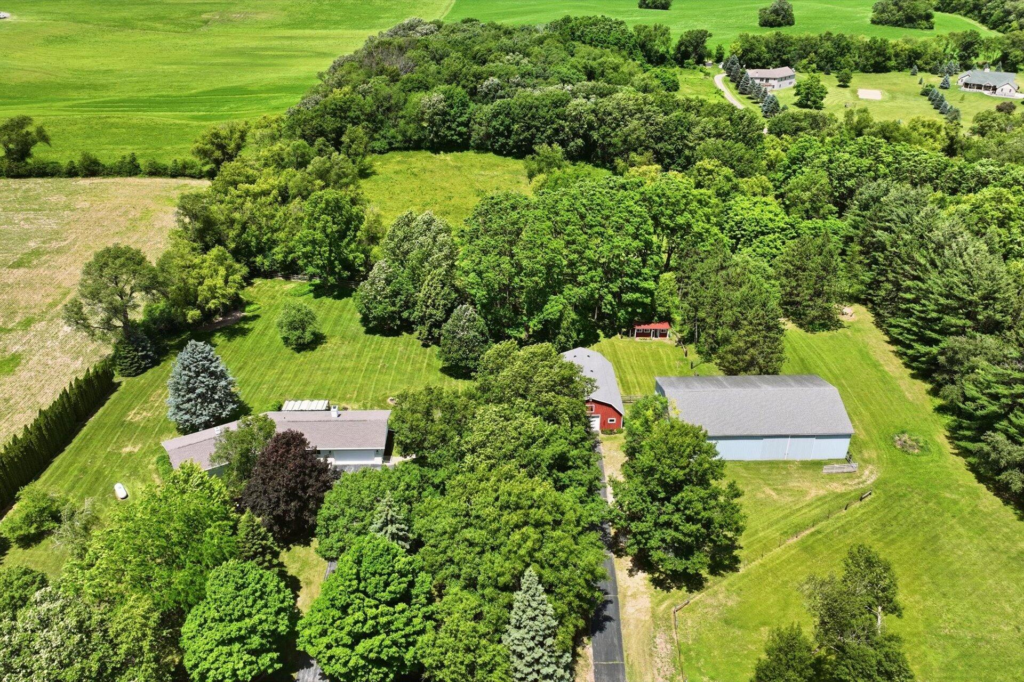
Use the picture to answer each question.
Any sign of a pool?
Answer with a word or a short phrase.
No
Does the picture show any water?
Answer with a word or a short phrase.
No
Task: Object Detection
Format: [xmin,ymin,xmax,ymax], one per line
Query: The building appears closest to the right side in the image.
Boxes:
[956,68,1024,96]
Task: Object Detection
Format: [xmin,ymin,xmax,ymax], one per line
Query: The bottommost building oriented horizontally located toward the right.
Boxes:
[652,374,859,460]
